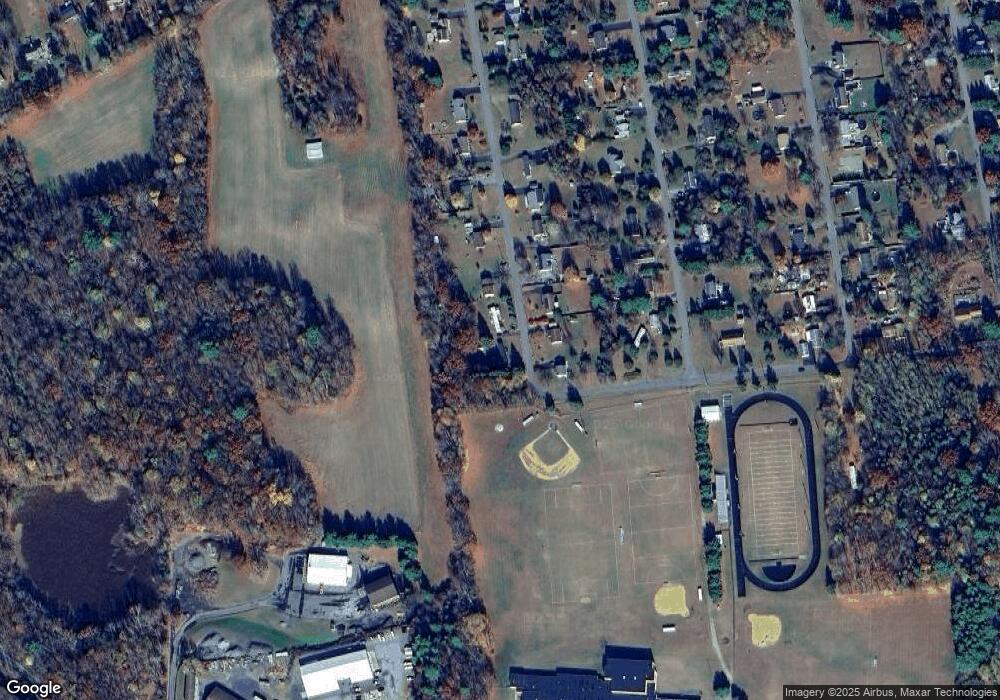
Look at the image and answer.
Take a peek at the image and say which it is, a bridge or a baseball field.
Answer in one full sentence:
I can see a baseball field in this picture.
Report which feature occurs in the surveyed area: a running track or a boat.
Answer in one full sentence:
I can see a running track in this picture.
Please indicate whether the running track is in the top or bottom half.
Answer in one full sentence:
The bottom half of the photo is where the running track is.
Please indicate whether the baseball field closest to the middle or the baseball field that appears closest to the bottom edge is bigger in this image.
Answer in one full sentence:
The baseball field closest to the middle is larger than the baseball field that appears closest to the bottom edge.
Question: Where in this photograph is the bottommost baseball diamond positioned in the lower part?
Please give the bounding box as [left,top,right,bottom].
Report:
[745,612,784,649]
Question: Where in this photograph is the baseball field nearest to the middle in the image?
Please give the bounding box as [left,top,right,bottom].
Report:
[516,422,584,484]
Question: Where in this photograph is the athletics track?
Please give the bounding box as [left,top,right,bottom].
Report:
[726,391,820,597]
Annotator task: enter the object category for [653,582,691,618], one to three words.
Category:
baseball field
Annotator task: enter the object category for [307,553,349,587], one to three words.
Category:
building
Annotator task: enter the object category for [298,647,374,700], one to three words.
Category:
building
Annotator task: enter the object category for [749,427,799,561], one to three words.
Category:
sports field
